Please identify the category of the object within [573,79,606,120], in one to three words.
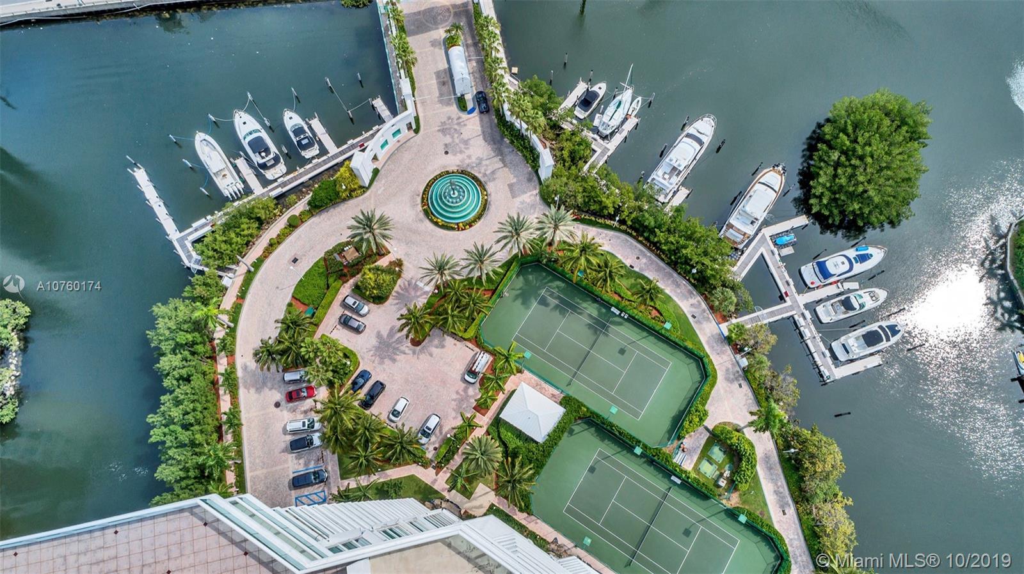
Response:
boat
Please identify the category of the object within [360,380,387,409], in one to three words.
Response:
car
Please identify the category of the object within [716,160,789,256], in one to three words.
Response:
boat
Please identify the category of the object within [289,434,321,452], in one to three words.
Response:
car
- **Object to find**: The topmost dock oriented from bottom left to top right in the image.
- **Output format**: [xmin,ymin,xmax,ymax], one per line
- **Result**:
[559,74,591,113]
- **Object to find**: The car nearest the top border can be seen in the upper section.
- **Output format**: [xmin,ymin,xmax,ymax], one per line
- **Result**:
[476,88,489,111]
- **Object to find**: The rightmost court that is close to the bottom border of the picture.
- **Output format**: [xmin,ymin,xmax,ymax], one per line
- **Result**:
[532,418,781,574]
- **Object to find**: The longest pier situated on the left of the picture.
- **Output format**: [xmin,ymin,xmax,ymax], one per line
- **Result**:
[175,137,372,273]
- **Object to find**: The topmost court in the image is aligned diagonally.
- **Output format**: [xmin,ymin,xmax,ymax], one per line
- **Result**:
[482,264,705,446]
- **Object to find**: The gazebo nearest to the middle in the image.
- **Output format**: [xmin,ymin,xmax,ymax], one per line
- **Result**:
[500,382,565,441]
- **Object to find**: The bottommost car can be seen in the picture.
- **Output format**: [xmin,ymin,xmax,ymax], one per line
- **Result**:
[292,468,327,489]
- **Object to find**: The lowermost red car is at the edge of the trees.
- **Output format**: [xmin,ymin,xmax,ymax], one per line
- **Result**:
[285,386,317,403]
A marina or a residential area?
marina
